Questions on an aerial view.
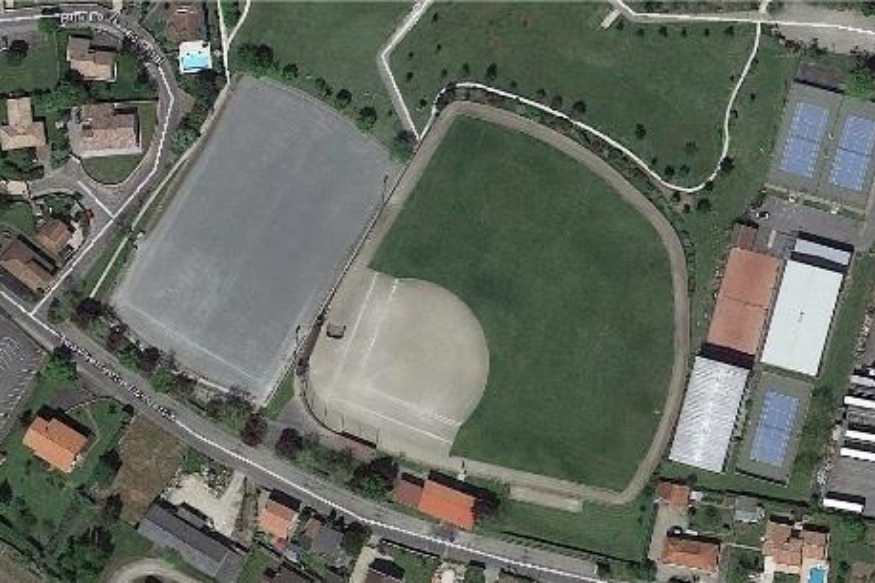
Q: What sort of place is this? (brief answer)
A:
sports ground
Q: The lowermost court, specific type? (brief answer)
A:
tennis court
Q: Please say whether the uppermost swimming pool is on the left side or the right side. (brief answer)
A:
left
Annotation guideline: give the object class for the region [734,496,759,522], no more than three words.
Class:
house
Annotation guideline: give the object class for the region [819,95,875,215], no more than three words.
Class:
tennis court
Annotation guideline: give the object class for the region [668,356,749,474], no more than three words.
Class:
building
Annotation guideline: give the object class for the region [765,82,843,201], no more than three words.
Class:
tennis court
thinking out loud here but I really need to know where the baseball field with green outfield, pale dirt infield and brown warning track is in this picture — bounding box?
[301,99,690,513]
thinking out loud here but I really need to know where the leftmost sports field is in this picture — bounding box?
[109,76,391,405]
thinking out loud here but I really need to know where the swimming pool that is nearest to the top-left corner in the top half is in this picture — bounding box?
[180,42,213,73]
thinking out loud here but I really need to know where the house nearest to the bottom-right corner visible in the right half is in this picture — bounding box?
[766,522,828,563]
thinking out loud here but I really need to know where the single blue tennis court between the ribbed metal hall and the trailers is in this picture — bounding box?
[736,371,813,486]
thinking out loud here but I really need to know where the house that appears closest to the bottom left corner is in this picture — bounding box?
[22,415,85,470]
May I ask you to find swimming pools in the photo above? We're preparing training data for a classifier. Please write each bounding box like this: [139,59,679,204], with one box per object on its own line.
[180,42,213,73]
[808,568,826,583]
